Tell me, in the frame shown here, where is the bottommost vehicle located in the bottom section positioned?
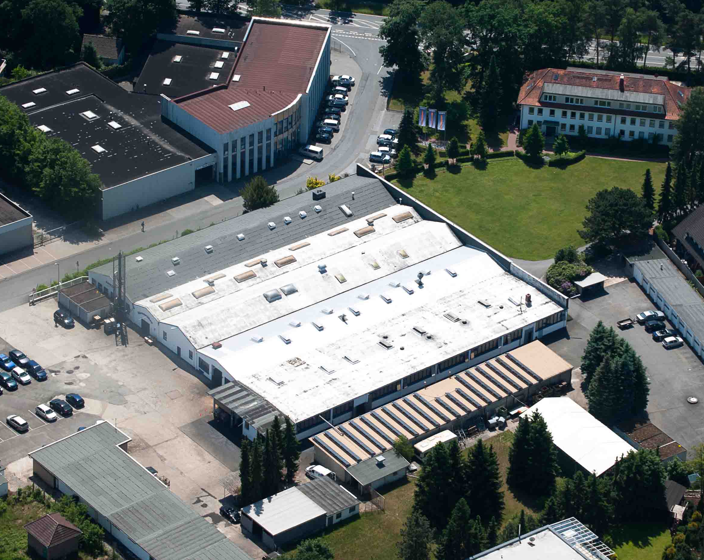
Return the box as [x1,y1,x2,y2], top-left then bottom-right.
[219,507,242,525]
